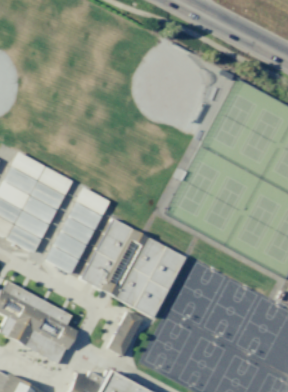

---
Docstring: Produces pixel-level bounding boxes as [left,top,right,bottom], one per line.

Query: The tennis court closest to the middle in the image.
[177,164,220,216]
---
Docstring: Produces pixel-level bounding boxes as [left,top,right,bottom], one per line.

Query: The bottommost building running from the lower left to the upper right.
[108,312,144,356]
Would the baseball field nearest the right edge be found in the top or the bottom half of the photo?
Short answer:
top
